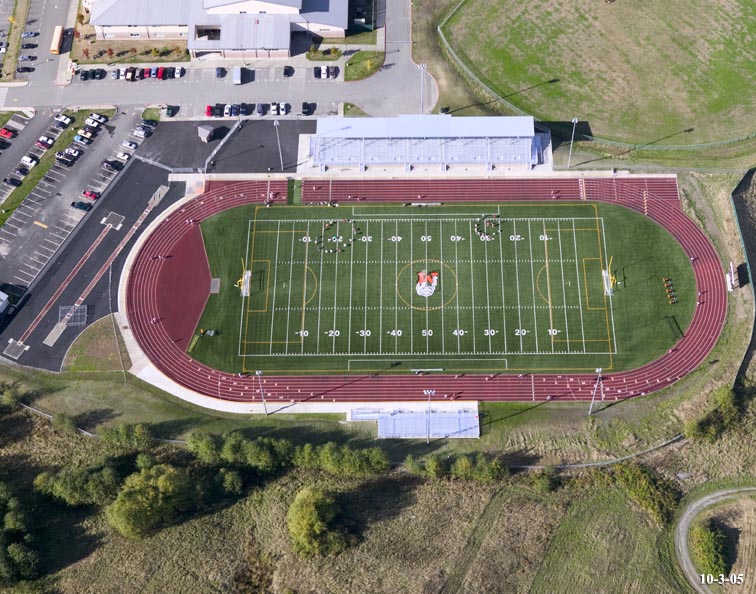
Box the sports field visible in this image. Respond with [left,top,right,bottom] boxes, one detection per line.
[185,201,697,376]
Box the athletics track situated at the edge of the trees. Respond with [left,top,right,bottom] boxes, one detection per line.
[125,178,727,403]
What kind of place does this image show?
sports ground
